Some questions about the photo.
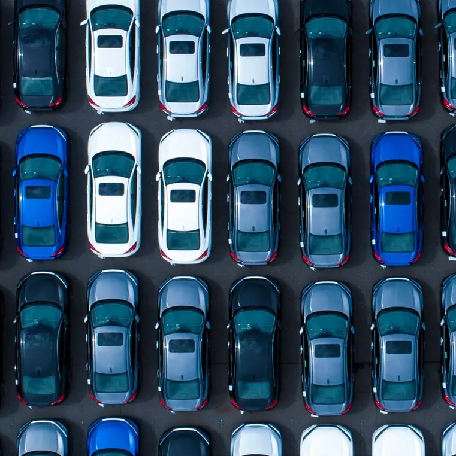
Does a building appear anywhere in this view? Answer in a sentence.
No, there isn't any building down there.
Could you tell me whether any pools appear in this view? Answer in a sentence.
No, no pool is visible in the view.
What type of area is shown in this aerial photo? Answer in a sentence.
It's a parking lot.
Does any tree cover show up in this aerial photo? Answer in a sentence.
No, there is no tree cover in the image.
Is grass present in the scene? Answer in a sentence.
No, no grass is visible.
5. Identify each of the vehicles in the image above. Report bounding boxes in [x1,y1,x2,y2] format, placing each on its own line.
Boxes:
[84,122,143,261]
[300,426,353,456]
[11,271,72,409]
[293,0,355,125]
[432,0,456,117]
[226,275,284,413]
[230,423,283,456]
[438,124,456,262]
[372,426,425,456]
[370,276,427,414]
[363,0,425,124]
[368,130,427,270]
[86,417,142,456]
[154,275,212,413]
[79,0,142,116]
[11,125,72,263]
[83,268,143,408]
[159,427,213,456]
[297,133,354,271]
[439,273,456,410]
[299,281,356,418]
[154,0,212,121]
[17,419,72,456]
[155,129,213,267]
[6,0,70,116]
[220,0,282,122]
[225,130,283,267]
